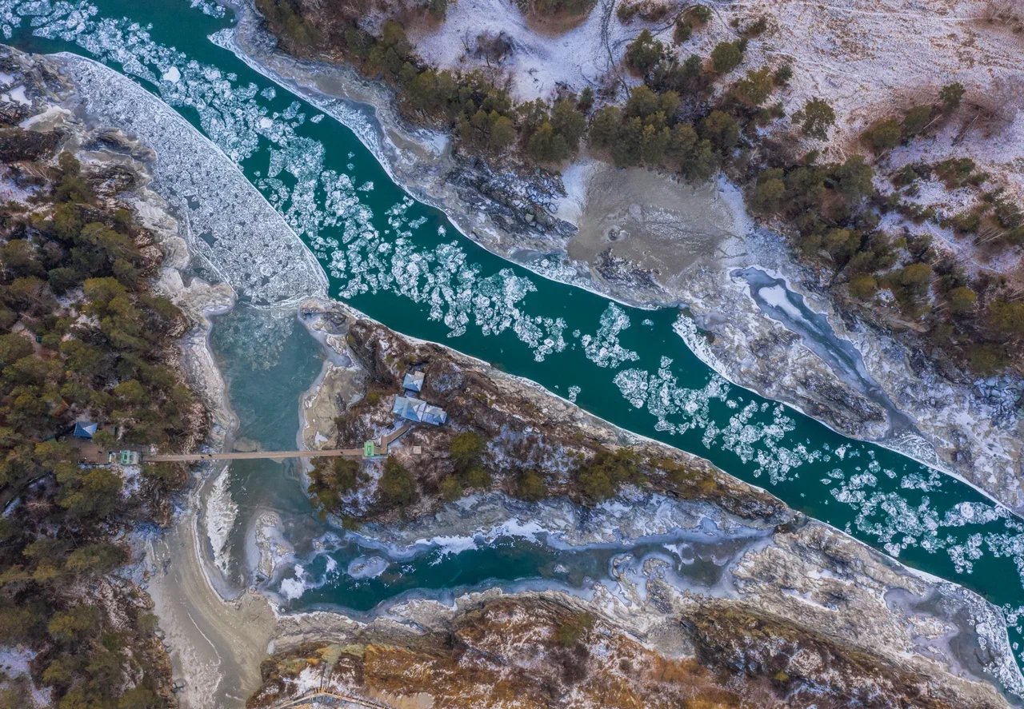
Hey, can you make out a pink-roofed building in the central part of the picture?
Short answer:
No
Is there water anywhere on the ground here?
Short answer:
Yes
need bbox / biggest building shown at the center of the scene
[393,397,449,429]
